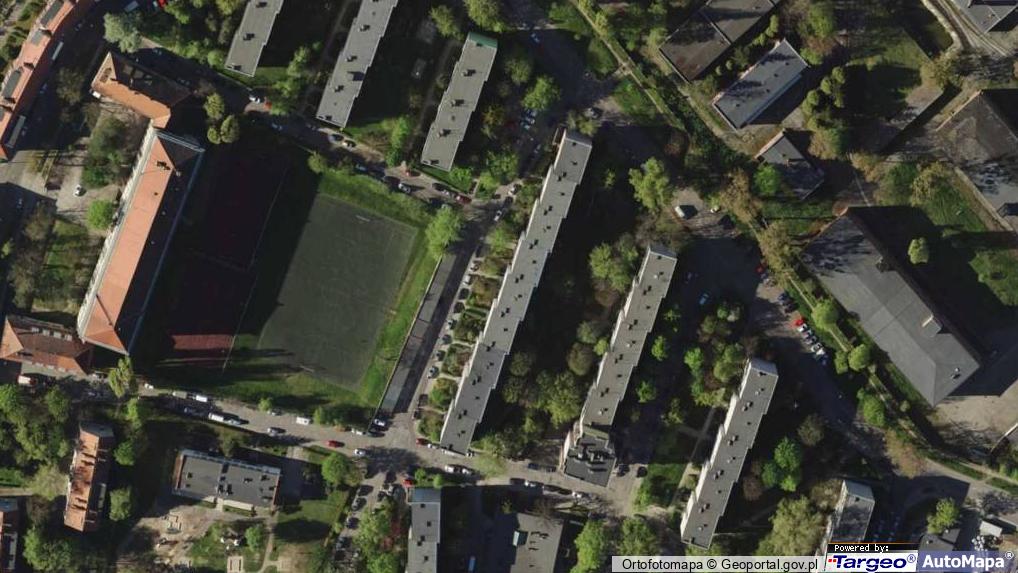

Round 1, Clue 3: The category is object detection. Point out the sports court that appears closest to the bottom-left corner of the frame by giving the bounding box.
[160,247,249,357]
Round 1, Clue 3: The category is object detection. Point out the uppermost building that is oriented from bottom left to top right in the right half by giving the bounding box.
[659,0,779,82]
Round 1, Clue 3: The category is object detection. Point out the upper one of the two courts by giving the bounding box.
[187,146,284,267]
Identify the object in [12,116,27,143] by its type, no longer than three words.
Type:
vehicle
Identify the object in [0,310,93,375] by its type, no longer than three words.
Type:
house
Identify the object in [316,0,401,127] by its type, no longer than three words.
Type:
building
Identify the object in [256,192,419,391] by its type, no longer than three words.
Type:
soccer field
